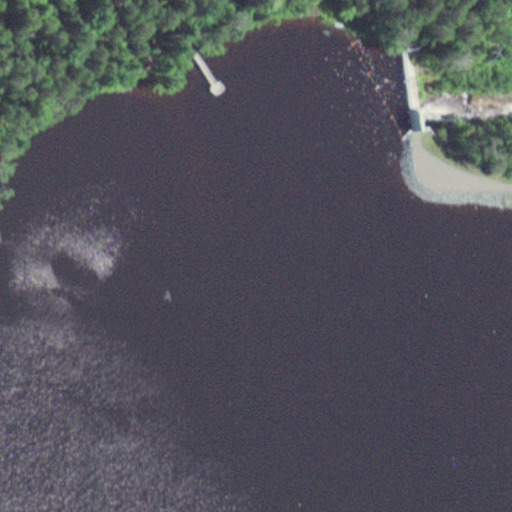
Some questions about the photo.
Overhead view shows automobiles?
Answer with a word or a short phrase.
No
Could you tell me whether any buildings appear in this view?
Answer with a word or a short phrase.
No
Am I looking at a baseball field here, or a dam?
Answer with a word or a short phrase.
dam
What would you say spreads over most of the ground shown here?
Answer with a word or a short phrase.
water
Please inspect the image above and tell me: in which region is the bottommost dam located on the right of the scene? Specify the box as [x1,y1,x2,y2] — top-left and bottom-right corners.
[400,132,512,210]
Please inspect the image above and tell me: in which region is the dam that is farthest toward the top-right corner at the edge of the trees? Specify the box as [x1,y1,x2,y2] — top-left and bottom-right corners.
[402,46,448,140]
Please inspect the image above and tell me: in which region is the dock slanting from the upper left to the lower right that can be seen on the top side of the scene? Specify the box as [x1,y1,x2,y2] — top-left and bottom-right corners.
[191,50,224,96]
